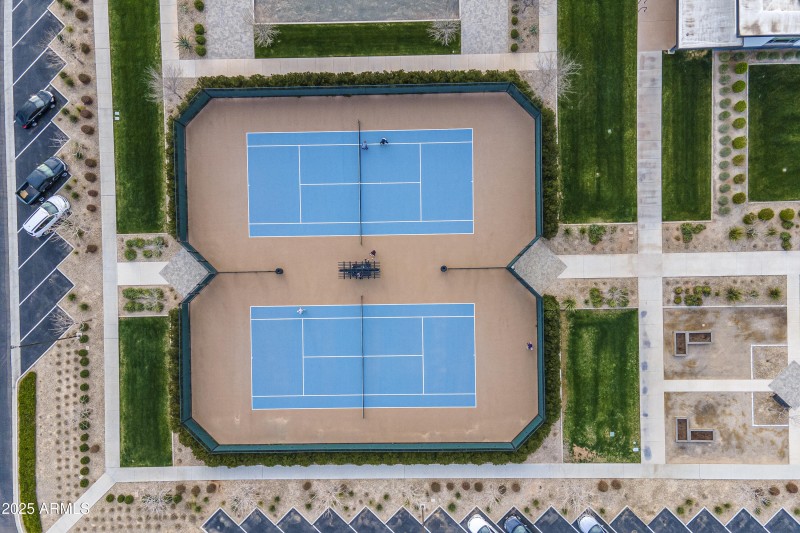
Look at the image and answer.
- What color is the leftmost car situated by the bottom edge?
white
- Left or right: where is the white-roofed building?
right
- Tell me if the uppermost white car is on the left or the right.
left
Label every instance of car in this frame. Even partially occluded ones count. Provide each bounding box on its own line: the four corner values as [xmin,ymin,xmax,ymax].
[27,197,69,237]
[505,515,534,533]
[14,88,56,128]
[581,513,613,533]
[468,513,501,533]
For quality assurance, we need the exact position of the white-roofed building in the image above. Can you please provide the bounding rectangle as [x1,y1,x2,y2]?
[669,0,800,54]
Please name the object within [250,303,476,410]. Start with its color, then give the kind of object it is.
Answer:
blue tennis court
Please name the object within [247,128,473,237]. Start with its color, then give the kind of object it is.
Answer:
blue tennis court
